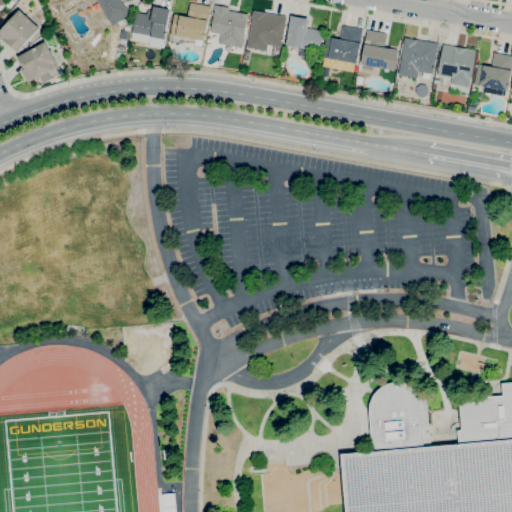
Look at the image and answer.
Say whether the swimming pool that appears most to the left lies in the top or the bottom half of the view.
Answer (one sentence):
You can find the swimming pool that appears most to the left in the top half.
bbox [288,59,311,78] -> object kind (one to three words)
swimming pool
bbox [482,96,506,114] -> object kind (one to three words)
swimming pool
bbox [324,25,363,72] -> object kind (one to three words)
house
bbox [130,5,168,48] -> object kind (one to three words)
house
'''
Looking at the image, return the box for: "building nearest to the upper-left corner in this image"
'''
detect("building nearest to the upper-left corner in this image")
[0,8,37,51]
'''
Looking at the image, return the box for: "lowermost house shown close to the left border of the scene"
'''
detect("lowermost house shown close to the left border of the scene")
[17,40,58,83]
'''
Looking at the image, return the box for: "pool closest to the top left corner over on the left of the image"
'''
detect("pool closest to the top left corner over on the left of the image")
[68,12,90,37]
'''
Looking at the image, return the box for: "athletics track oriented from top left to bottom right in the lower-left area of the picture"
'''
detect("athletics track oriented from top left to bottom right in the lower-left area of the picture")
[0,344,160,512]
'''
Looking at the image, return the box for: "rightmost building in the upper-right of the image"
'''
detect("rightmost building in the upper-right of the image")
[475,52,512,96]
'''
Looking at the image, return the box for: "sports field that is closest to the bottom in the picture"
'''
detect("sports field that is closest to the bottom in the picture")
[0,404,140,512]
